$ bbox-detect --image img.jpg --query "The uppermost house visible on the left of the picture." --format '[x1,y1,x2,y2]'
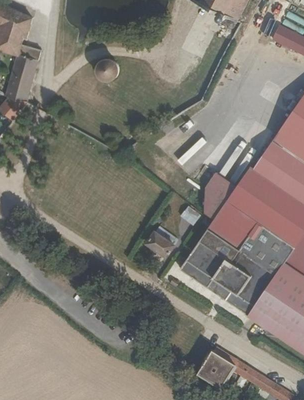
[0,0,32,25]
